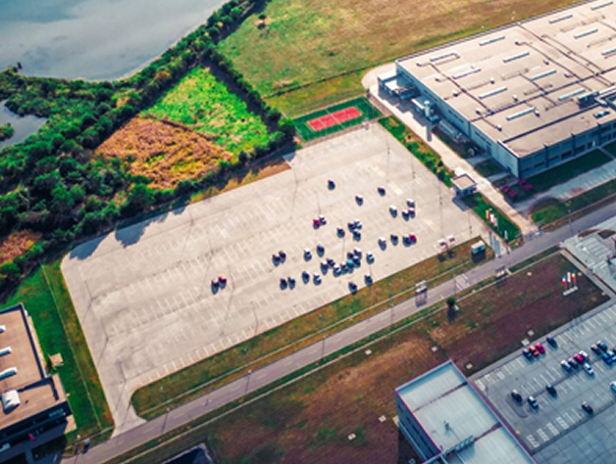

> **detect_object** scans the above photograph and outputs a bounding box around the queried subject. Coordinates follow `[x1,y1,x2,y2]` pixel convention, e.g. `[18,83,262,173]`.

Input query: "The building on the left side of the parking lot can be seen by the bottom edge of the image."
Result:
[0,309,74,447]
